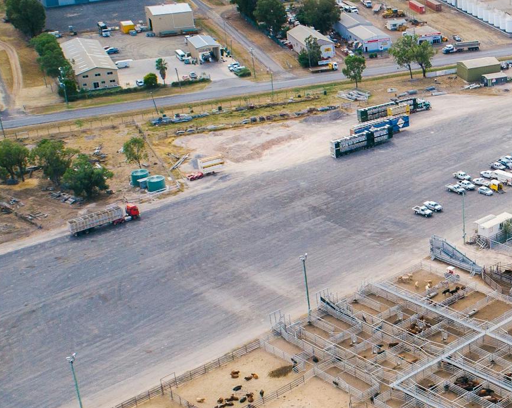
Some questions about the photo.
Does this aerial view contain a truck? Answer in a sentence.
Yes, the frame does contain a truck.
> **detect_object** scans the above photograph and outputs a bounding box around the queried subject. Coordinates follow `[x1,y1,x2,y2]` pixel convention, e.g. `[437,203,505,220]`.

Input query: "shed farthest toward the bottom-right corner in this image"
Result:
[472,212,512,249]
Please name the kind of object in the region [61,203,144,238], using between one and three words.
truck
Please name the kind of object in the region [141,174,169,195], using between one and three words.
water tank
